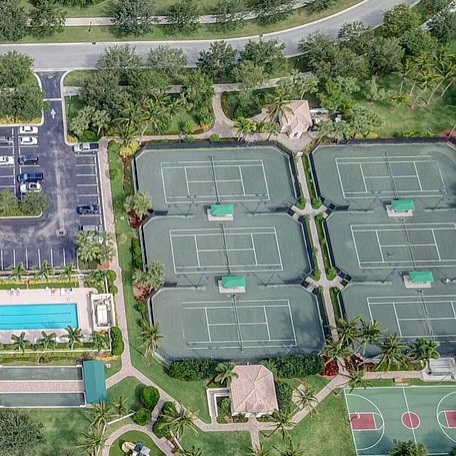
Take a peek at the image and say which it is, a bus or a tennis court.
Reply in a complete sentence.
This aerial view contains a tennis court.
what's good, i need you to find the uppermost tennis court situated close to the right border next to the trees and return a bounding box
[312,143,456,209]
